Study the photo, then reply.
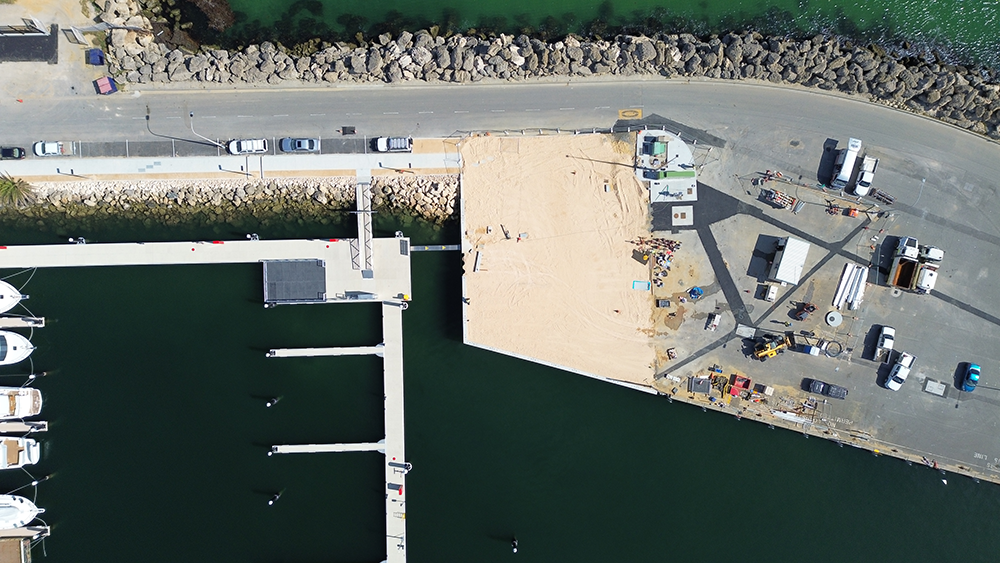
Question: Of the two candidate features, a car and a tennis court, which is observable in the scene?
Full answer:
There is a car in the scene.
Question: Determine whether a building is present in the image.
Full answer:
Yes, the frame does contain a building.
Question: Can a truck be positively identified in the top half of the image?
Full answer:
Yes, I can see a truck in the top half of the image.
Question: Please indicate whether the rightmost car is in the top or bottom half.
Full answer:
You can find the rightmost car in the bottom half.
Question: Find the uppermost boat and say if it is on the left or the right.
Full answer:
The uppermost boat is on the left side of the image.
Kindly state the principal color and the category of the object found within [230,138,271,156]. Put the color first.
white car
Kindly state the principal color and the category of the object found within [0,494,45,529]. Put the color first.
white boat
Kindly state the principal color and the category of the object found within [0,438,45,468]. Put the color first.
white boat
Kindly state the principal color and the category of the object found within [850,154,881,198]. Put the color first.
white truck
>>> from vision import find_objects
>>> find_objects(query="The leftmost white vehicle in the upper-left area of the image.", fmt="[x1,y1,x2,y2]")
[35,140,80,158]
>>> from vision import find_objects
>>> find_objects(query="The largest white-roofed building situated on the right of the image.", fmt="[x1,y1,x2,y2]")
[764,237,810,289]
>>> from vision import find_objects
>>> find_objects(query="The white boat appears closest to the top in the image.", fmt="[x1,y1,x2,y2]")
[0,284,28,309]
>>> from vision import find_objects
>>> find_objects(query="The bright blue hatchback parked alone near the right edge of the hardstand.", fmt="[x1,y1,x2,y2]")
[957,360,979,392]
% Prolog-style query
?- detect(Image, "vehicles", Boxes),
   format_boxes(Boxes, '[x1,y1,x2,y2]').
[882,350,914,391]
[230,138,271,156]
[281,137,320,154]
[753,329,797,360]
[805,377,851,402]
[957,360,979,392]
[886,235,926,294]
[873,323,896,364]
[0,144,28,161]
[790,299,817,323]
[820,135,869,191]
[850,154,881,198]
[914,245,942,293]
[375,136,412,153]
[35,140,80,158]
